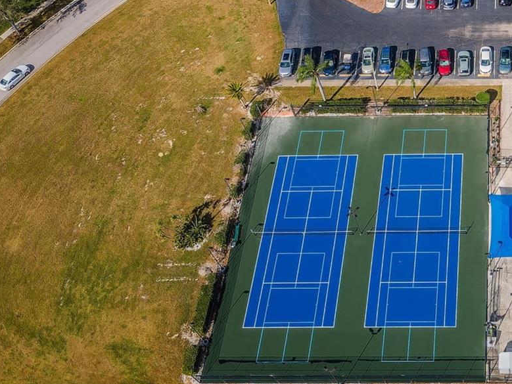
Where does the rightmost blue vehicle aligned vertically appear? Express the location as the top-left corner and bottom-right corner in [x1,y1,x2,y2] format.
[499,46,512,73]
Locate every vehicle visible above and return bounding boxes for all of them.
[342,51,352,69]
[478,47,493,74]
[405,0,419,10]
[378,46,394,74]
[419,45,433,75]
[437,49,451,76]
[460,0,472,9]
[425,0,437,9]
[499,46,512,73]
[386,0,400,9]
[500,0,511,6]
[457,50,471,77]
[323,50,339,77]
[0,65,33,91]
[443,0,456,9]
[278,48,296,76]
[298,43,316,73]
[360,47,376,75]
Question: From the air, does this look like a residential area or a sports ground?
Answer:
sports ground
